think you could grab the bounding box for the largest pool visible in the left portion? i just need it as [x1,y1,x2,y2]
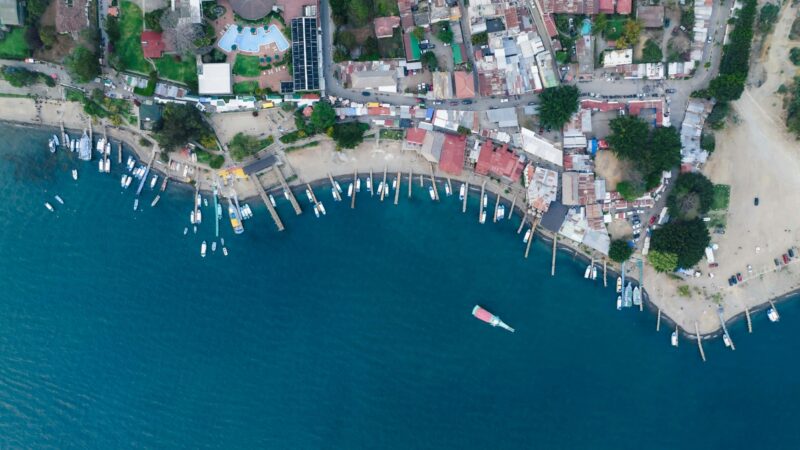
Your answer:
[219,23,288,52]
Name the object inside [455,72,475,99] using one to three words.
house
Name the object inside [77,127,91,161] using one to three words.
vessel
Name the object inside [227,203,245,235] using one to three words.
vessel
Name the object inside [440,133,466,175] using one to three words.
building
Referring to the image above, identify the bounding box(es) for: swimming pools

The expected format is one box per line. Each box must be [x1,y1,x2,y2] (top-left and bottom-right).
[219,23,288,52]
[580,21,592,35]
